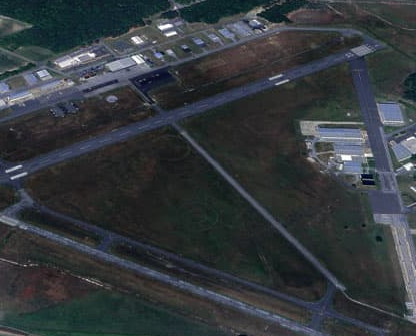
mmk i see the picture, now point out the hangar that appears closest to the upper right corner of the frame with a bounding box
[379,102,407,123]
